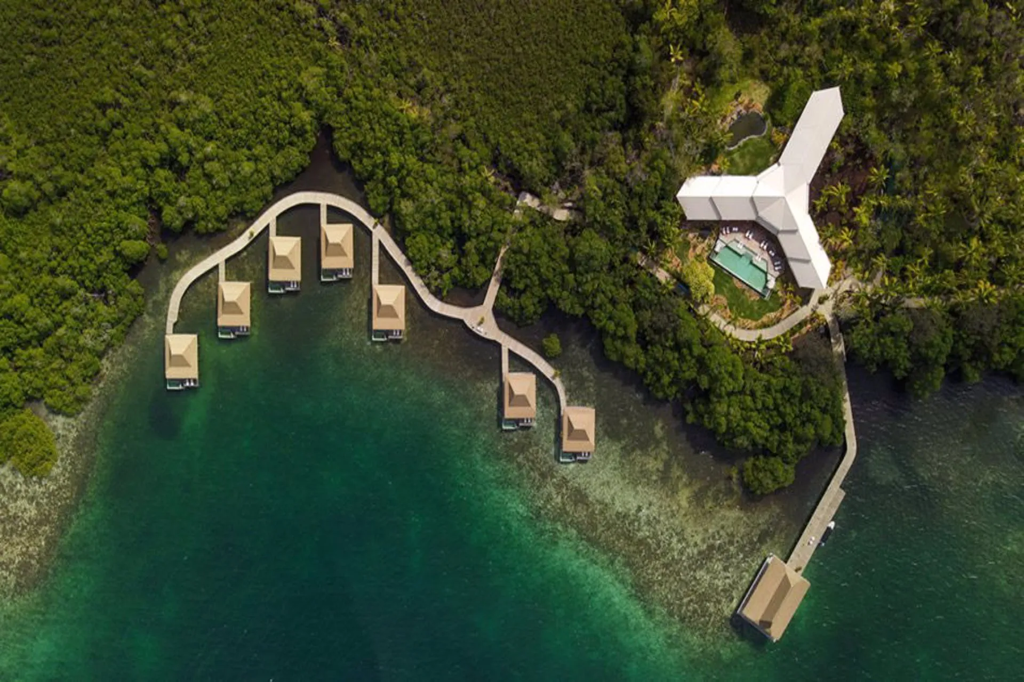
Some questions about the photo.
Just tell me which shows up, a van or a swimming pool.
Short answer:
swimming pool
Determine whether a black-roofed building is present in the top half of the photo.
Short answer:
No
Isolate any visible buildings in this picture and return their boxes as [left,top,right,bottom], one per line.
[373,285,405,338]
[738,552,811,640]
[560,407,595,459]
[165,335,199,387]
[269,237,301,291]
[218,282,251,335]
[676,86,844,289]
[321,224,353,278]
[502,373,536,425]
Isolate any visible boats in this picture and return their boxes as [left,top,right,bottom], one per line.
[819,524,834,545]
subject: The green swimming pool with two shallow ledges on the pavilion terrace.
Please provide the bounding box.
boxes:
[709,240,768,298]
